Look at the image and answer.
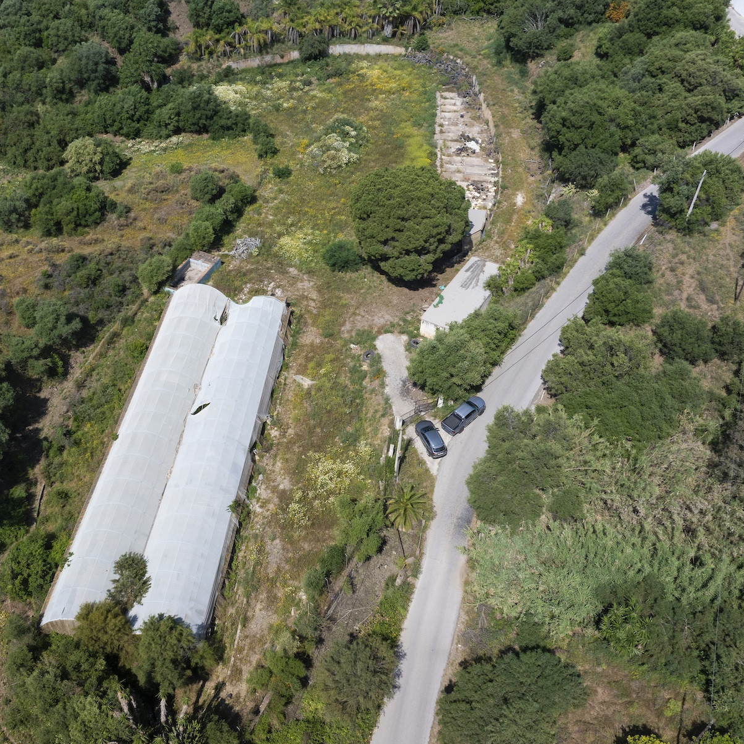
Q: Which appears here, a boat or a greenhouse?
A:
greenhouse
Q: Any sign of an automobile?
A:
Yes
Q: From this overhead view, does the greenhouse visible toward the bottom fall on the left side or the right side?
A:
left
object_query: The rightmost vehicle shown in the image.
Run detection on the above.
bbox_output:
[437,393,491,436]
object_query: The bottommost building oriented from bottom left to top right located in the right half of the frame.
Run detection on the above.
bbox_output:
[421,257,503,335]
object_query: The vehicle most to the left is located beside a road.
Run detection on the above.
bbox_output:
[414,416,450,458]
